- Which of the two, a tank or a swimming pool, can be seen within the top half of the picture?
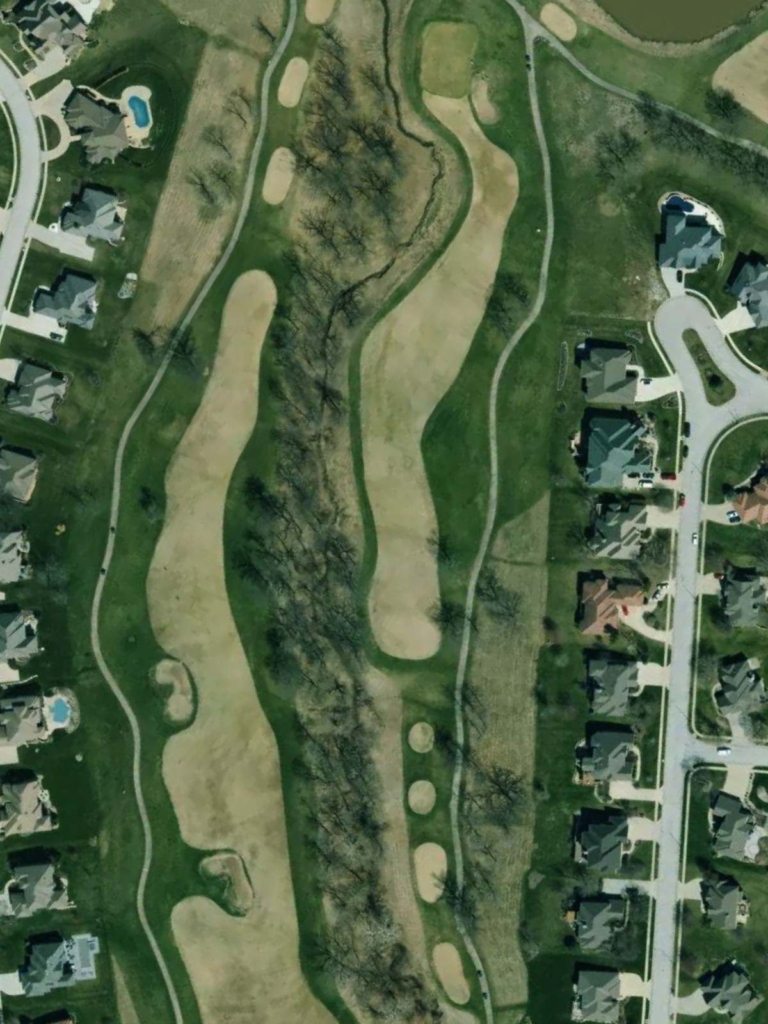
swimming pool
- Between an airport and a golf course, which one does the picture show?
golf course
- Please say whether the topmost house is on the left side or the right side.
left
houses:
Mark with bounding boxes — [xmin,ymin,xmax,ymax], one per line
[0,782,51,838]
[6,363,66,420]
[659,215,722,266]
[595,504,648,558]
[10,865,67,920]
[726,576,767,630]
[13,0,86,56]
[578,579,645,631]
[716,660,767,712]
[589,661,639,717]
[581,348,637,403]
[581,817,630,872]
[0,612,38,664]
[713,797,755,861]
[579,972,621,1023]
[62,187,127,240]
[582,733,634,782]
[0,696,43,748]
[707,879,739,930]
[734,476,768,525]
[61,90,127,164]
[732,261,768,328]
[0,449,35,500]
[586,418,652,487]
[35,273,99,328]
[0,530,21,583]
[19,943,75,998]
[704,970,752,1013]
[580,900,624,949]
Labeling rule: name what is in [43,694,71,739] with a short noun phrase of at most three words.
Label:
swimming pool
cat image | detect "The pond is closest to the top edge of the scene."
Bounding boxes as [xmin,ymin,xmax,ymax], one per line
[593,0,766,44]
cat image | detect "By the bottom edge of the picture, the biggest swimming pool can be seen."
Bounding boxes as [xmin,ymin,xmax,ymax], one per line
[65,934,99,980]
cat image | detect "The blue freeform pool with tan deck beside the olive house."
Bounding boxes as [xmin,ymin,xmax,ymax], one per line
[120,85,152,147]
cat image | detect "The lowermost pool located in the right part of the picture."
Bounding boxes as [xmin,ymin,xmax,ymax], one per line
[660,192,725,236]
